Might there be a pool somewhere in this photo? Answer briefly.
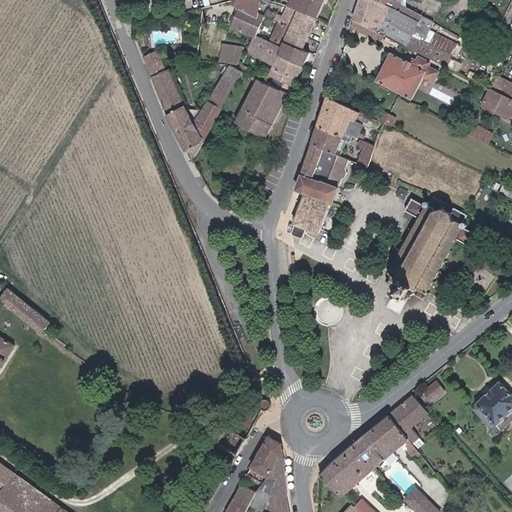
Yes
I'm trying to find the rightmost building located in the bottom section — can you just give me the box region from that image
[472,382,512,440]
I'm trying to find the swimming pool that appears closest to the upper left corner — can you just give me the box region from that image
[150,26,181,48]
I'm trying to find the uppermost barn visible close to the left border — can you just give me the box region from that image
[0,288,50,336]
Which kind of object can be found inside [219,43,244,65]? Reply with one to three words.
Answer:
building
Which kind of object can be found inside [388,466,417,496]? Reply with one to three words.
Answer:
swimming pool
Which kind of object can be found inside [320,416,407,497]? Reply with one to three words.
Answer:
house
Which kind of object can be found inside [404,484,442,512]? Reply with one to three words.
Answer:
barn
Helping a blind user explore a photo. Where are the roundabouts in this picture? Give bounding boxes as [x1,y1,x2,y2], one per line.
[281,380,362,466]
